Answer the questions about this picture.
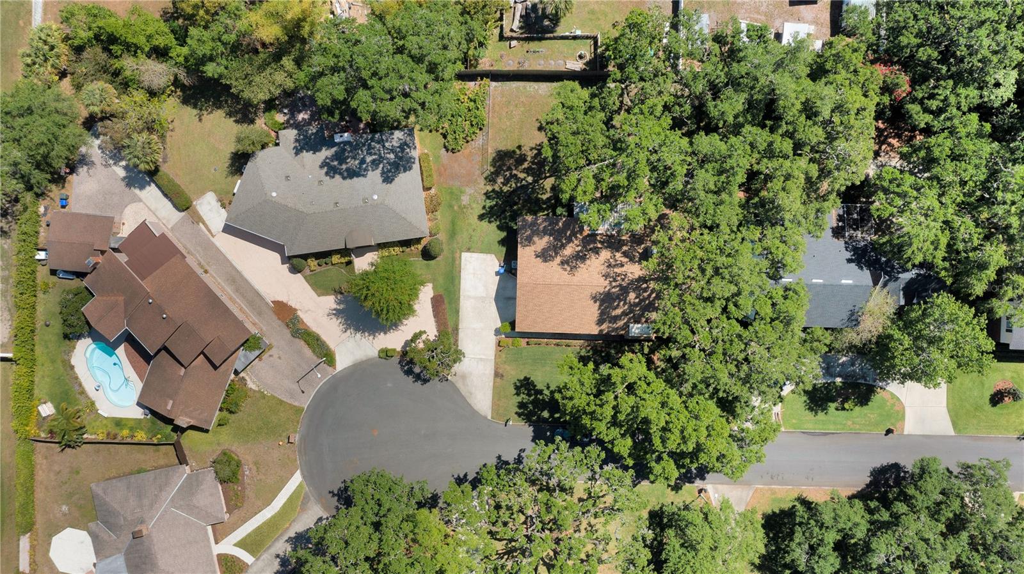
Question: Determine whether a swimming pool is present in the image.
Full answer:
Yes, a swimming pool appears in the view.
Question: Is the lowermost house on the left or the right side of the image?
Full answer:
The lowermost house sits on the left side.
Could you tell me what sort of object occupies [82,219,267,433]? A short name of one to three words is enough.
house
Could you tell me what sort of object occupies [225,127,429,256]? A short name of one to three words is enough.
house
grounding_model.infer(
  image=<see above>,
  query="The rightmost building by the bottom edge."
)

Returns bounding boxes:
[88,465,229,574]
